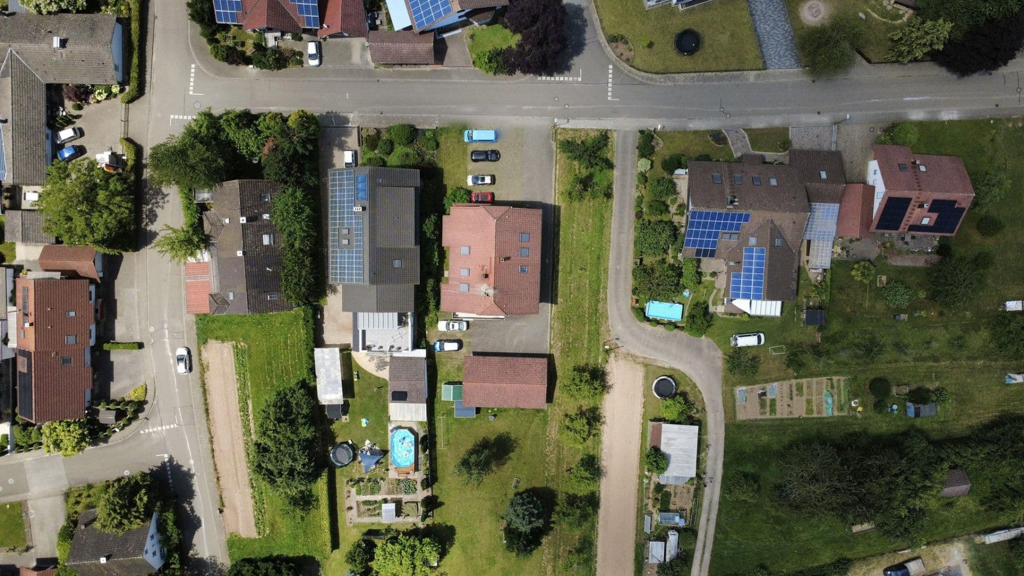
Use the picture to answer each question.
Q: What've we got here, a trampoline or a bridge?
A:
trampoline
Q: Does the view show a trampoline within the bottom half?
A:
Yes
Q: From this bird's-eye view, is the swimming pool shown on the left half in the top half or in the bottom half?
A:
bottom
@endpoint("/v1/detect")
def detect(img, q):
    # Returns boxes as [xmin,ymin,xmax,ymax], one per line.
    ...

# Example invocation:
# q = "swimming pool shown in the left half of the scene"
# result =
[391,427,417,479]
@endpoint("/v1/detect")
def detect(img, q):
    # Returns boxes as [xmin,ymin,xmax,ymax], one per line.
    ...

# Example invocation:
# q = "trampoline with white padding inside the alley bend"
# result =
[653,376,676,399]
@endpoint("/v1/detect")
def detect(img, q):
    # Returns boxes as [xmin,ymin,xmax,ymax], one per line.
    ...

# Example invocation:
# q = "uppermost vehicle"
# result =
[306,39,321,67]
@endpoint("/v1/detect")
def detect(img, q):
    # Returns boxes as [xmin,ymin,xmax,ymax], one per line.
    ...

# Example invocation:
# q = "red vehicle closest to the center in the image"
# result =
[470,190,495,203]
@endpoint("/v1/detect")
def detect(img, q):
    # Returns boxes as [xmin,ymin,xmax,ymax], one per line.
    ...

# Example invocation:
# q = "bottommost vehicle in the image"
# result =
[884,555,926,576]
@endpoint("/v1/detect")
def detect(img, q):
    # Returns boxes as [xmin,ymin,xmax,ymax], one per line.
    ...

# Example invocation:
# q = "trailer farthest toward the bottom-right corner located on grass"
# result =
[970,521,1024,546]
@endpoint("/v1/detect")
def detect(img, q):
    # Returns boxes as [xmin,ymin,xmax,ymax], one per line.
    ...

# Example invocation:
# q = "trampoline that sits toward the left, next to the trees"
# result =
[328,442,355,470]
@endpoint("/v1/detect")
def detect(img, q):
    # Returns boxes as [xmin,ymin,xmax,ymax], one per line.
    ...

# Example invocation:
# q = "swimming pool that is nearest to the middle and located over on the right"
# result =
[645,299,683,323]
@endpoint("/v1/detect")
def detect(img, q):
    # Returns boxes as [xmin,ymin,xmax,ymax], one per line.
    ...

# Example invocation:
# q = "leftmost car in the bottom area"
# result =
[176,347,190,375]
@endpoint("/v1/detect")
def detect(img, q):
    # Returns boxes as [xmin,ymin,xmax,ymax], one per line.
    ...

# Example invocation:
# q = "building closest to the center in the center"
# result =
[441,202,542,322]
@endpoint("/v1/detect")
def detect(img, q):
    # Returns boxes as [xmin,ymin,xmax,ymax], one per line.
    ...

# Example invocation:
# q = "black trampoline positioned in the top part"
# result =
[674,26,702,56]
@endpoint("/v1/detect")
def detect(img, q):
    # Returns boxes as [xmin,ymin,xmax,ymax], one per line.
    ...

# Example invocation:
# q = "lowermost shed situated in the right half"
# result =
[648,539,664,562]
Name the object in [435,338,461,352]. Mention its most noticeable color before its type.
white car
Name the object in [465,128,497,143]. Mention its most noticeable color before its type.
blue vehicle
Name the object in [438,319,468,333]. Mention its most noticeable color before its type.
white car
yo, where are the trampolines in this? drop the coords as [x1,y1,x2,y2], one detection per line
[653,376,676,399]
[674,26,702,56]
[328,442,355,470]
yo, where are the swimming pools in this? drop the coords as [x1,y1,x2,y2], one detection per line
[645,299,683,323]
[391,427,417,479]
